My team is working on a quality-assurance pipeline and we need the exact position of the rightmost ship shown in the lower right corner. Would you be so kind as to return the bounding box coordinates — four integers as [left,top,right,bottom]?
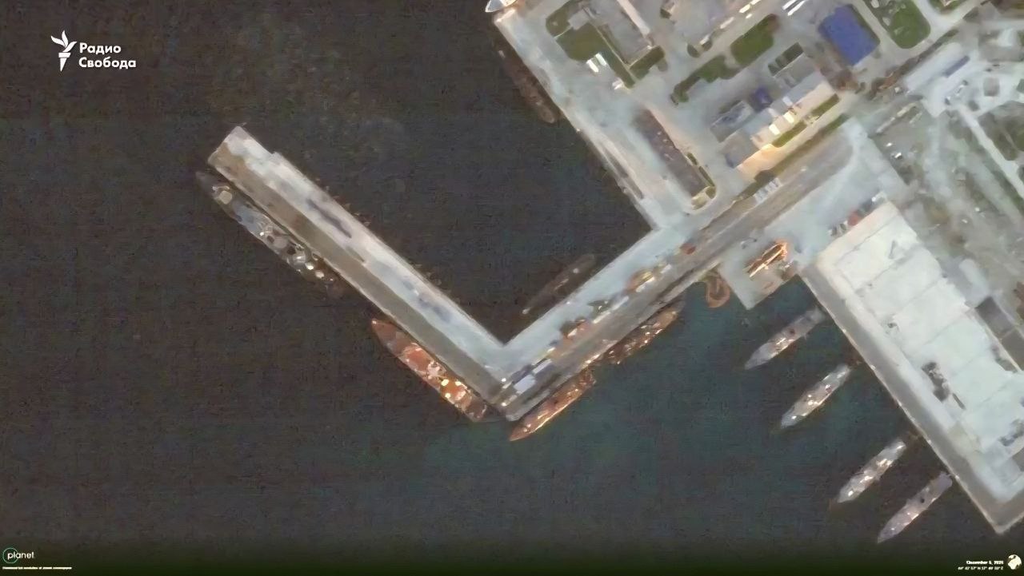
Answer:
[879,469,957,542]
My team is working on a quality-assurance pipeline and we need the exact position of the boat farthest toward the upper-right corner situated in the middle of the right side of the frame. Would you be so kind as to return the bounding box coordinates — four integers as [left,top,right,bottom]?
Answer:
[749,242,793,279]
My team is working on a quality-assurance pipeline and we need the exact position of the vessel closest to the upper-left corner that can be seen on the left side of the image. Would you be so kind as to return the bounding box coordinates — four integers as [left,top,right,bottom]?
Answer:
[196,170,346,302]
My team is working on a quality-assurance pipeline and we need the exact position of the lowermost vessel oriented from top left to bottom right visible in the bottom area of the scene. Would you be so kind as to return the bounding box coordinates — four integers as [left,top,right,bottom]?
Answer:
[373,320,491,428]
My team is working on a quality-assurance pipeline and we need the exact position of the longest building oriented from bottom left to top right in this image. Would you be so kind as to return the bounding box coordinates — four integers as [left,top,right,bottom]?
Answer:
[738,70,839,154]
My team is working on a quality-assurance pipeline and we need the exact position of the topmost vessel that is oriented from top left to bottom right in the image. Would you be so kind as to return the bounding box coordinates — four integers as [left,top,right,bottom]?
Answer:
[499,46,555,121]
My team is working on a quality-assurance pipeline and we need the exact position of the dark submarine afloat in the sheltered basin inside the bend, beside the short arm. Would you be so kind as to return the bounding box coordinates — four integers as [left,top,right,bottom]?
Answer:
[524,256,594,312]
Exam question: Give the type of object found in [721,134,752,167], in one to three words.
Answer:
building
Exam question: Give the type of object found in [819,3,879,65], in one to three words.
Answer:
building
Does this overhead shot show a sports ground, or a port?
port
